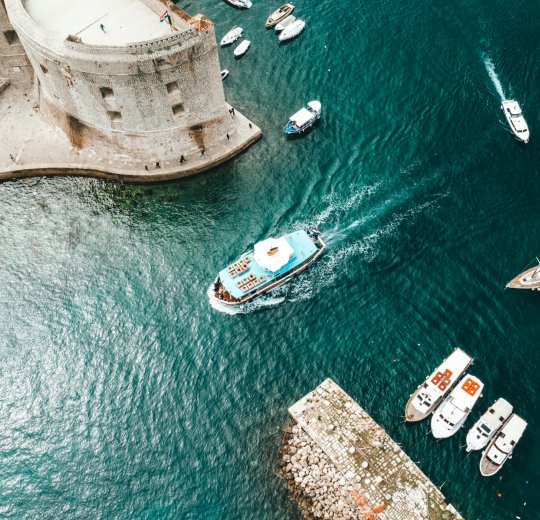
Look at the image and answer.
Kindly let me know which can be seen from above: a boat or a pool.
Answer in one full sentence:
Looking from above, you can make out a boat.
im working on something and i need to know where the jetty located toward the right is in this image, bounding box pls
[288,378,467,520]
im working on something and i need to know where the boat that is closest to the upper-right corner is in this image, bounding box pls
[499,96,532,141]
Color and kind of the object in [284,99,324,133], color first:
white boat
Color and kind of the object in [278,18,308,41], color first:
white boat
